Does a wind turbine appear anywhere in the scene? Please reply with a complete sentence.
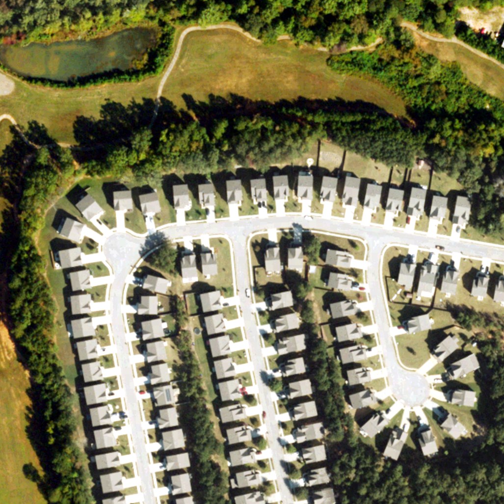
No, the scene contains no wind turbine.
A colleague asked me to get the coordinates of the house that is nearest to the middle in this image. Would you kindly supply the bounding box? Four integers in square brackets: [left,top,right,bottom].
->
[265,248,281,272]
